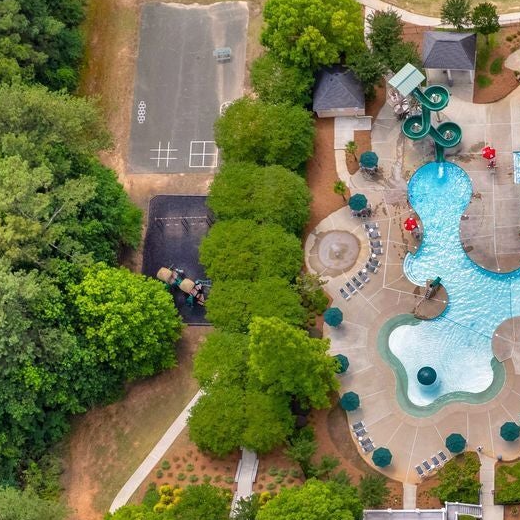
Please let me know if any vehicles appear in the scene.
No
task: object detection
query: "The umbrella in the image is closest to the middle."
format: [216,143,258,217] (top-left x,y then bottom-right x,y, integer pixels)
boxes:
[323,307,344,327]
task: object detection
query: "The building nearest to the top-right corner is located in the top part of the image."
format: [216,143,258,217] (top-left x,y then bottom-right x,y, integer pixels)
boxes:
[421,31,477,85]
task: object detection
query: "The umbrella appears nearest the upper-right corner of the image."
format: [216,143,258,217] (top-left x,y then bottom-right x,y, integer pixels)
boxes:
[482,147,496,161]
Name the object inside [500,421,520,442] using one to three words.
umbrella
